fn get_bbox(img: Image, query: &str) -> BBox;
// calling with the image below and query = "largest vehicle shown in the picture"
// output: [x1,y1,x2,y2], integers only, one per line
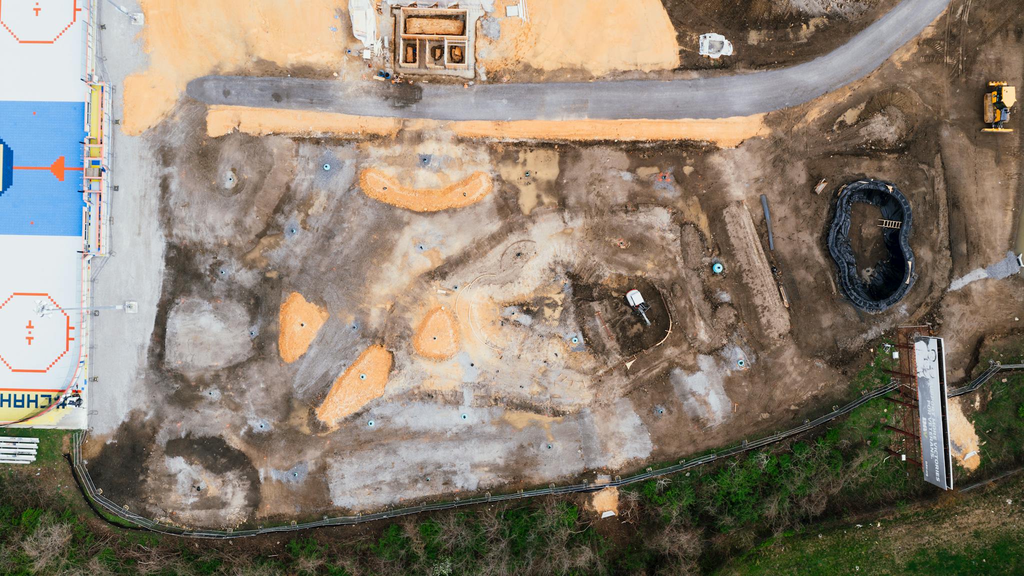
[976,82,1019,132]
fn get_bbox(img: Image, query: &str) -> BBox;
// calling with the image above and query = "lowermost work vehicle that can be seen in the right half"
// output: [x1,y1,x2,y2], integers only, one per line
[623,288,650,326]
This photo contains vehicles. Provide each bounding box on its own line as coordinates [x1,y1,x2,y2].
[623,288,650,326]
[976,82,1019,132]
